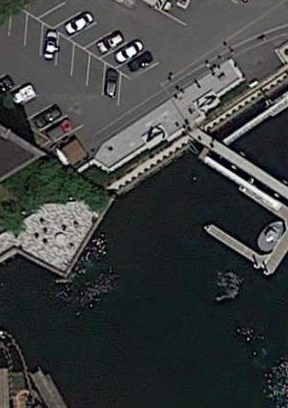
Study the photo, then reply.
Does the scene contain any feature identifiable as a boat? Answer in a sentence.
Yes, there is a boat in the image.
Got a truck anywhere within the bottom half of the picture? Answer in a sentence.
No, within the bottom half of the picture there is no truck.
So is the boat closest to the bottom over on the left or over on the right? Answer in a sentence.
You can find the boat closest to the bottom on the right side of the picture.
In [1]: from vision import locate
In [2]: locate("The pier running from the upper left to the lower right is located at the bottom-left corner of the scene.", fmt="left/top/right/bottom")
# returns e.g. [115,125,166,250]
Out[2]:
[30,368,68,408]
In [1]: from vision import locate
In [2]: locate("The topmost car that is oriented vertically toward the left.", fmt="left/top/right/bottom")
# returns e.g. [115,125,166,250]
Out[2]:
[42,29,57,59]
